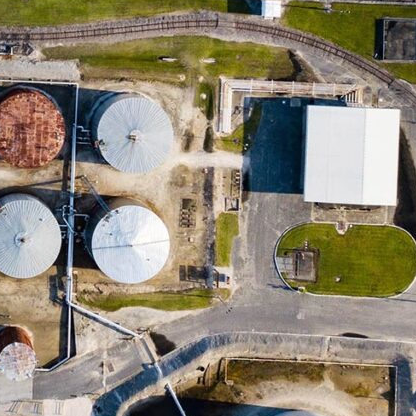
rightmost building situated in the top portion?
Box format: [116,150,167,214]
[299,106,400,206]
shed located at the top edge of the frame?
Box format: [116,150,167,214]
[259,0,281,19]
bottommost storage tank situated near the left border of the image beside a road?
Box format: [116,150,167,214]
[0,322,36,380]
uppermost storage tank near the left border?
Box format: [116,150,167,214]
[0,85,66,167]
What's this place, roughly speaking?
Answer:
industrial area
